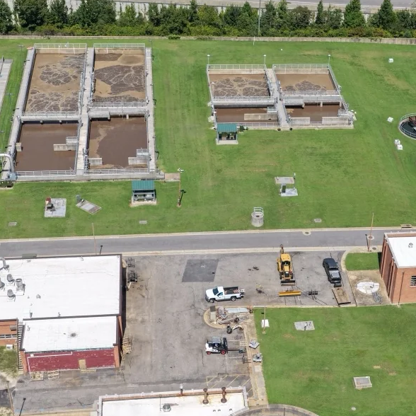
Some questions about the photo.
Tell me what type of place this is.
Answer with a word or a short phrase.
industrial area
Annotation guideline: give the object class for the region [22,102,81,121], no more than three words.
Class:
bridge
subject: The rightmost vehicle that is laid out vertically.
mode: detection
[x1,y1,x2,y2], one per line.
[278,244,293,283]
